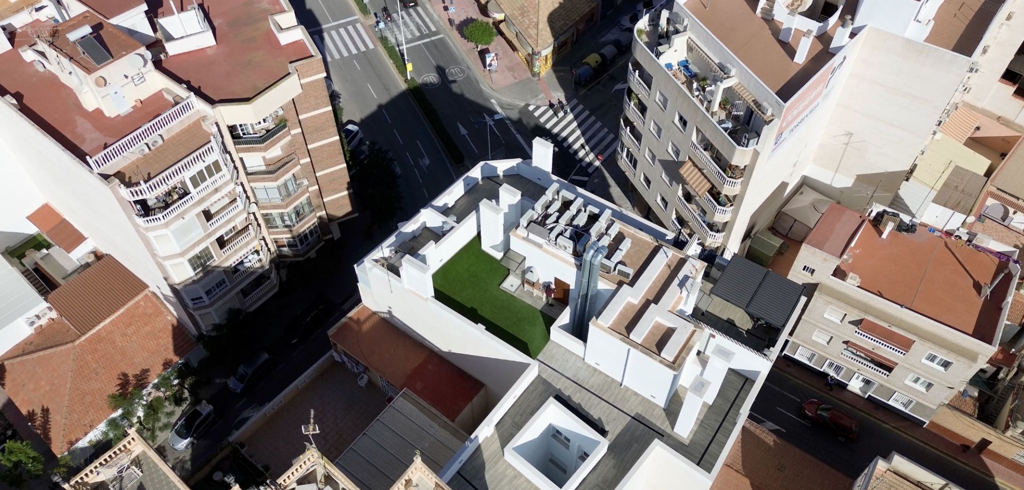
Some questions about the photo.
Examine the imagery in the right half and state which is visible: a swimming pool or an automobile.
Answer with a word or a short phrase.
automobile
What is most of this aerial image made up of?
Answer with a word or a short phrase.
buildings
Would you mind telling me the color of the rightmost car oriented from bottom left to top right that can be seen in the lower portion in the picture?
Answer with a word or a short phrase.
black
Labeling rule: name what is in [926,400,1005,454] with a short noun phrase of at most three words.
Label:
house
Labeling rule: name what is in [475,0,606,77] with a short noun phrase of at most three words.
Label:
building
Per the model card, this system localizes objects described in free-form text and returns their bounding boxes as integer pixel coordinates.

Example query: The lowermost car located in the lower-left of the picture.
[165,392,219,453]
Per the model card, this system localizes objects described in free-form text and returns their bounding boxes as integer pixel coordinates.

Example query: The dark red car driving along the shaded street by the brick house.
[798,394,866,443]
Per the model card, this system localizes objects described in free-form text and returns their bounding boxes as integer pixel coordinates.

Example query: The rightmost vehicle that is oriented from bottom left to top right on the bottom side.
[278,297,330,346]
